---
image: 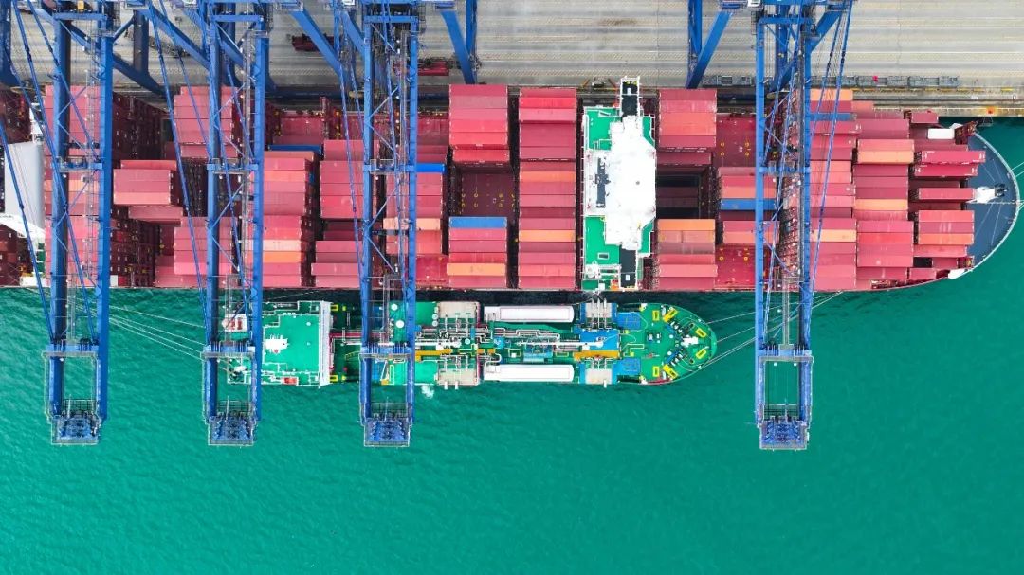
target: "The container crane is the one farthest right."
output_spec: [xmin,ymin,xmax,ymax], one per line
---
[682,0,856,449]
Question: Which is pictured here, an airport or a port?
port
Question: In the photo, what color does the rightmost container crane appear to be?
blue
